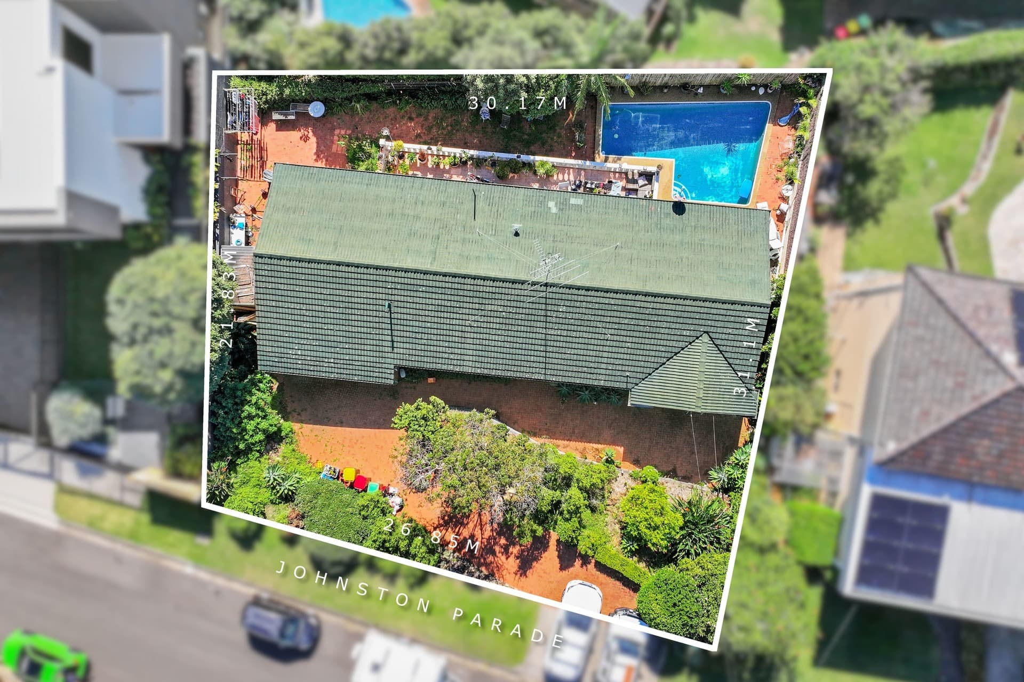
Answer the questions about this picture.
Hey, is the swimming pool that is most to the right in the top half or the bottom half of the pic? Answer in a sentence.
The top half of the photo is where the swimming pool that is most to the right is.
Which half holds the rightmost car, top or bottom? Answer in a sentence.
Seen from above, the rightmost car lies in the bottom half of the view.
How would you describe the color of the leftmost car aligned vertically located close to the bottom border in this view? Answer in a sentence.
In this view, the leftmost car aligned vertically located close to the bottom border is white.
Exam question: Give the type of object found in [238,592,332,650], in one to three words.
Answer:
car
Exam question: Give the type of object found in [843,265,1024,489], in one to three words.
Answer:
house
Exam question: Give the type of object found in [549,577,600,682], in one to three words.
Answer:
car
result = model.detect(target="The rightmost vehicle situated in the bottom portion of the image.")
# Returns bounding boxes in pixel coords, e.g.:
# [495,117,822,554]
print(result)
[601,612,649,682]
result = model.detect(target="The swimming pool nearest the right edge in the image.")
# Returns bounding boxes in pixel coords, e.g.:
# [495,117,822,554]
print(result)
[600,99,771,205]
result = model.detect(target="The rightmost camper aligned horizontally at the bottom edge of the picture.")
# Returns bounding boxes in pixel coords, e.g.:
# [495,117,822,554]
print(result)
[350,629,468,682]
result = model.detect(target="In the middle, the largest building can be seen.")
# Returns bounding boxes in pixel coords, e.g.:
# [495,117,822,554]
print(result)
[253,162,774,418]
